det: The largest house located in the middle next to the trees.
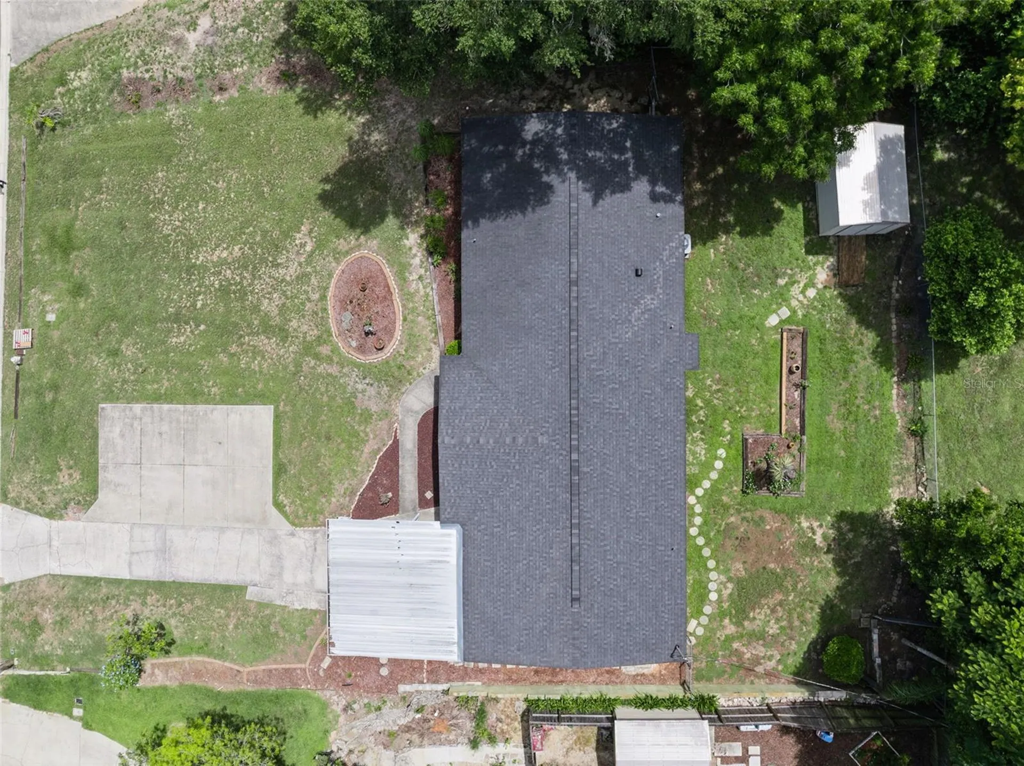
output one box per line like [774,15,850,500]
[437,111,699,670]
